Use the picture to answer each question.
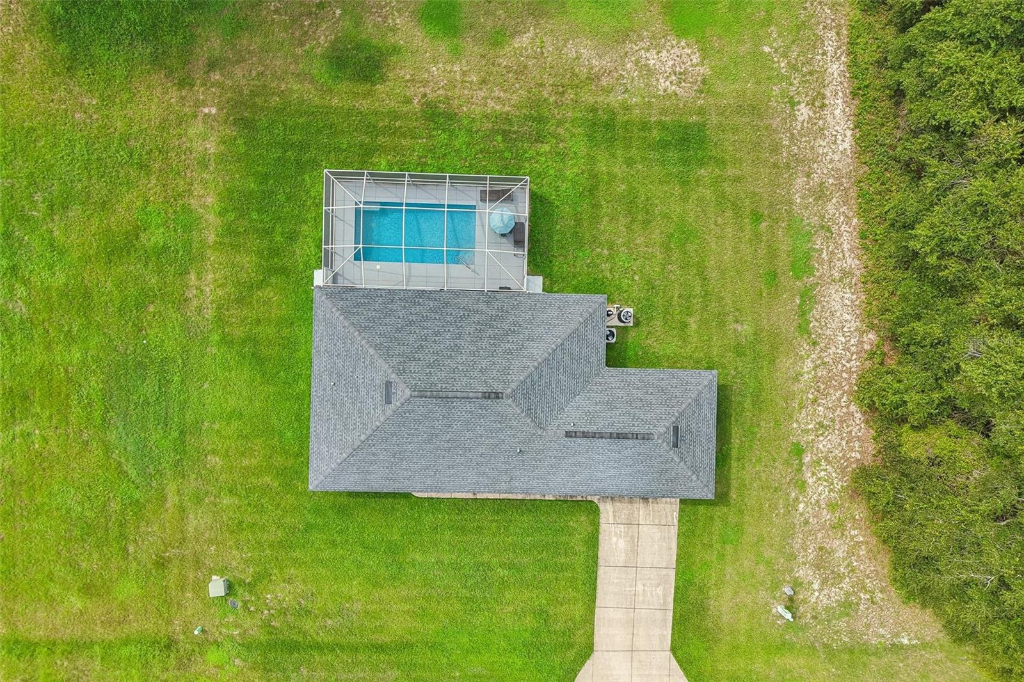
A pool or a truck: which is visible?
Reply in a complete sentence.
Of the two, only a pool appears.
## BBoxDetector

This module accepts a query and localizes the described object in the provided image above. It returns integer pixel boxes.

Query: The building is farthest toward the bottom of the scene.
[307,285,719,499]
